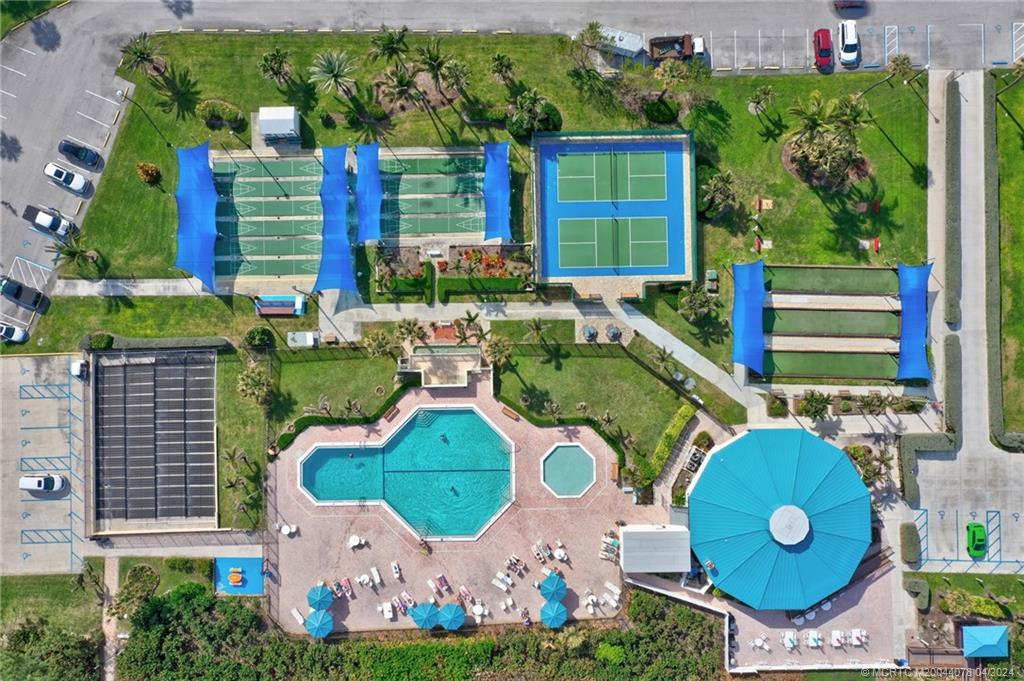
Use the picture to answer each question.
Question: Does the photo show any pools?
Yes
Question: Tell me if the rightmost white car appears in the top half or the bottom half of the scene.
top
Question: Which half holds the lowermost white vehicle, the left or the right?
left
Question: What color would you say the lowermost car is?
green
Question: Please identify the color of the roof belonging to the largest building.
blue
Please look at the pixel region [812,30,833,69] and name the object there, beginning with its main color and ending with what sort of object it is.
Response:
red car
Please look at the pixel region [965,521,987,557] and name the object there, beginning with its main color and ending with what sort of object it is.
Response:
green car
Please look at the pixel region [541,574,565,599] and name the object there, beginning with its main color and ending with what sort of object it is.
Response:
blue umbrella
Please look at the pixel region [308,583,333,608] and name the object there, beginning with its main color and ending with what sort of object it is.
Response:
blue umbrella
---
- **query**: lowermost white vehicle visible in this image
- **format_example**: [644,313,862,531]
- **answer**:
[18,473,66,493]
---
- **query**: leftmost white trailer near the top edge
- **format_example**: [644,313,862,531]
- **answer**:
[600,25,644,57]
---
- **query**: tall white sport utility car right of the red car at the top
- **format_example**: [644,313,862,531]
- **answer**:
[837,23,859,66]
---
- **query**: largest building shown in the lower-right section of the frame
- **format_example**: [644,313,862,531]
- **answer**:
[685,428,872,612]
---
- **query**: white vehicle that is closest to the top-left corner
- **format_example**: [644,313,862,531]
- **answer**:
[45,163,89,193]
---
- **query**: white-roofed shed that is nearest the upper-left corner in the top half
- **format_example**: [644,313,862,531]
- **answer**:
[259,107,302,147]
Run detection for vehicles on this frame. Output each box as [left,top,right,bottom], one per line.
[643,35,708,61]
[812,30,833,69]
[67,362,90,374]
[18,473,66,493]
[837,23,859,66]
[965,521,987,557]
[45,163,89,193]
[60,140,102,169]
[0,319,30,346]
[23,202,75,237]
[0,277,43,309]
